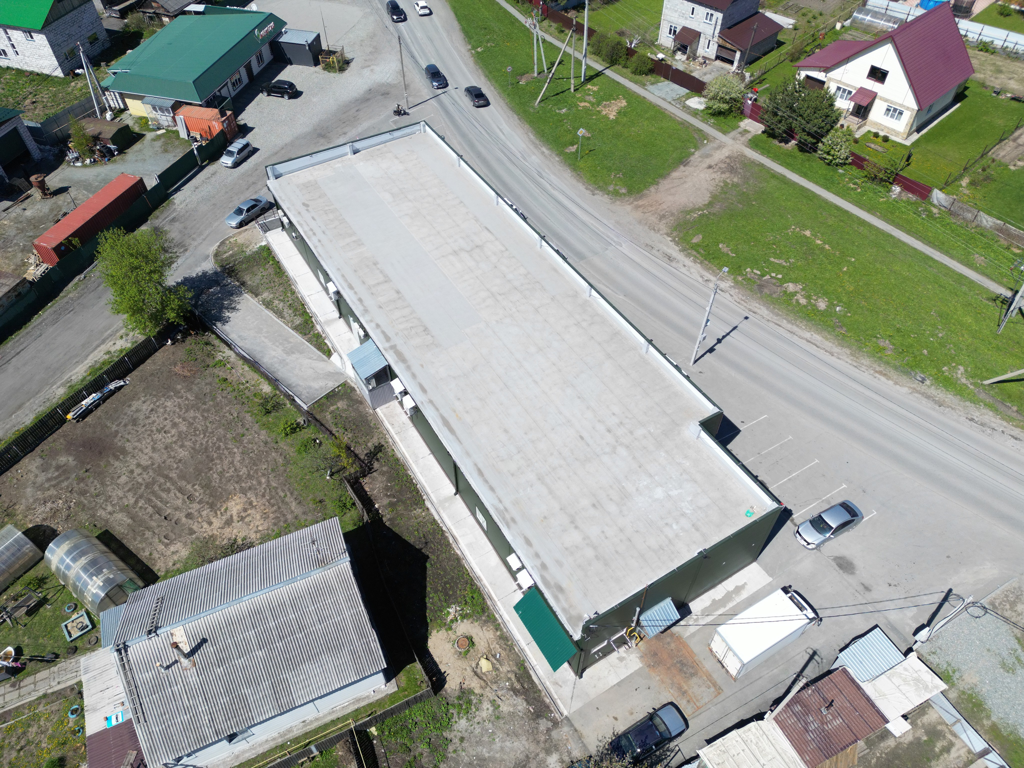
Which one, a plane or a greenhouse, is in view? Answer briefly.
greenhouse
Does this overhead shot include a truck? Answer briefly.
Yes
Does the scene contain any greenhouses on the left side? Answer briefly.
Yes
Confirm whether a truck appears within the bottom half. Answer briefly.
Yes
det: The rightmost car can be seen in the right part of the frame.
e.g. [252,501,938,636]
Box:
[795,501,865,552]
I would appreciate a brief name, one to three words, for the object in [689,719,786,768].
shed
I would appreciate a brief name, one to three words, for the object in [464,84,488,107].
car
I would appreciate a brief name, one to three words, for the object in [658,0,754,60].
house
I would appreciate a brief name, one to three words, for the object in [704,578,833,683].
truck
